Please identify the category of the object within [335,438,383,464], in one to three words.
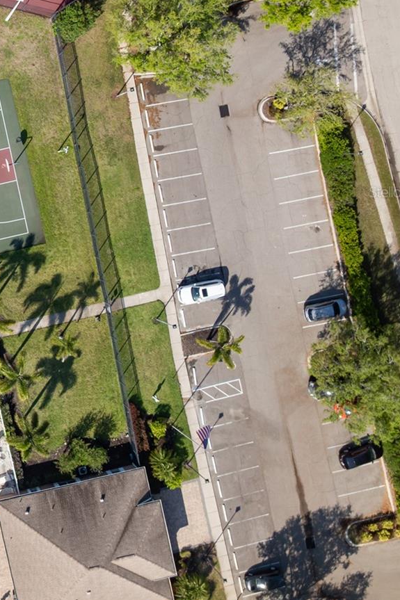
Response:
car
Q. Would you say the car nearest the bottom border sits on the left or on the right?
right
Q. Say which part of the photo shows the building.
bottom left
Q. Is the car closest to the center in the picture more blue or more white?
white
